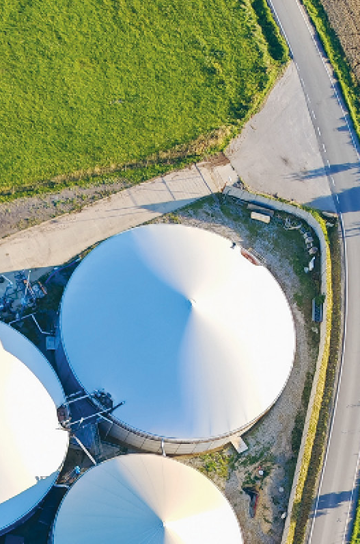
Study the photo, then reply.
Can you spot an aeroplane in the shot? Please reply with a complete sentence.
No, there isn't any aeroplane down there.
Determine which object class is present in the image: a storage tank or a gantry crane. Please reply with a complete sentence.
There is a storage tank in the scene.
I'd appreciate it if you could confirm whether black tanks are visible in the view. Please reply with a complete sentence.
No, there appears to be no black tank in this shot.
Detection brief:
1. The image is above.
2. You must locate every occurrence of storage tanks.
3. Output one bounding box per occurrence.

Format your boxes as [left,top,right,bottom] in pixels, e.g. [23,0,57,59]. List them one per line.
[43,452,244,544]
[43,222,297,456]
[0,320,72,541]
